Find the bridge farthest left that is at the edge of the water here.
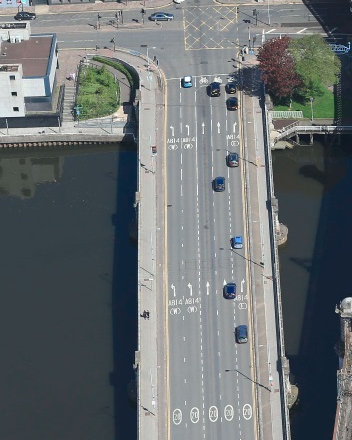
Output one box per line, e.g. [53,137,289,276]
[130,71,295,440]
